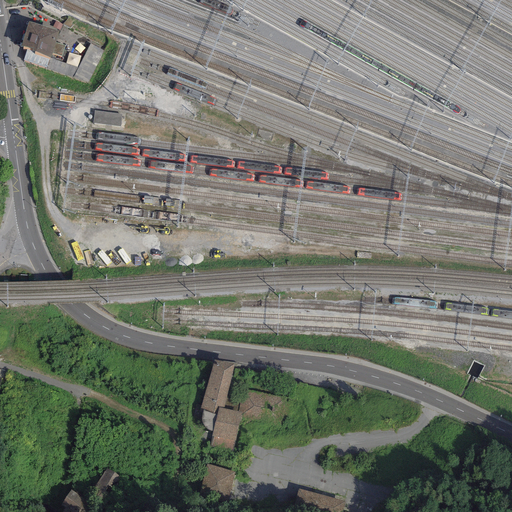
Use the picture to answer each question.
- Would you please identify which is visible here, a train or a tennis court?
train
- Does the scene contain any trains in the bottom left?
No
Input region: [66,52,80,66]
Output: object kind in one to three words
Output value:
umbrella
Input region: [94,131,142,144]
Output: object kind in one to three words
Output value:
rail car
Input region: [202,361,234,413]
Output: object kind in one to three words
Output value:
house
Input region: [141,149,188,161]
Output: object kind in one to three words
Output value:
rail car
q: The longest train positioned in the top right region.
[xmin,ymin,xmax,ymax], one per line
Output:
[296,16,462,112]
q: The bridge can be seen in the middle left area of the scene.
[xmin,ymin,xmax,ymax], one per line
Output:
[0,266,113,318]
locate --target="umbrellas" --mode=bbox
[66,52,80,66]
[74,42,86,54]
